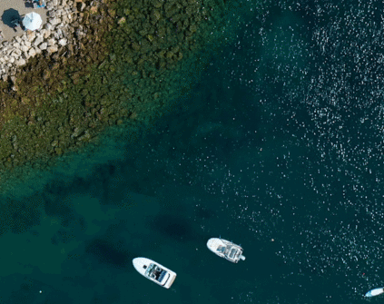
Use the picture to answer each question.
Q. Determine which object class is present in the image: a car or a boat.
boat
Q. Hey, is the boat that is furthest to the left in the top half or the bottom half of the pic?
bottom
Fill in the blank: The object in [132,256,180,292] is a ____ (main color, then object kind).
white boat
